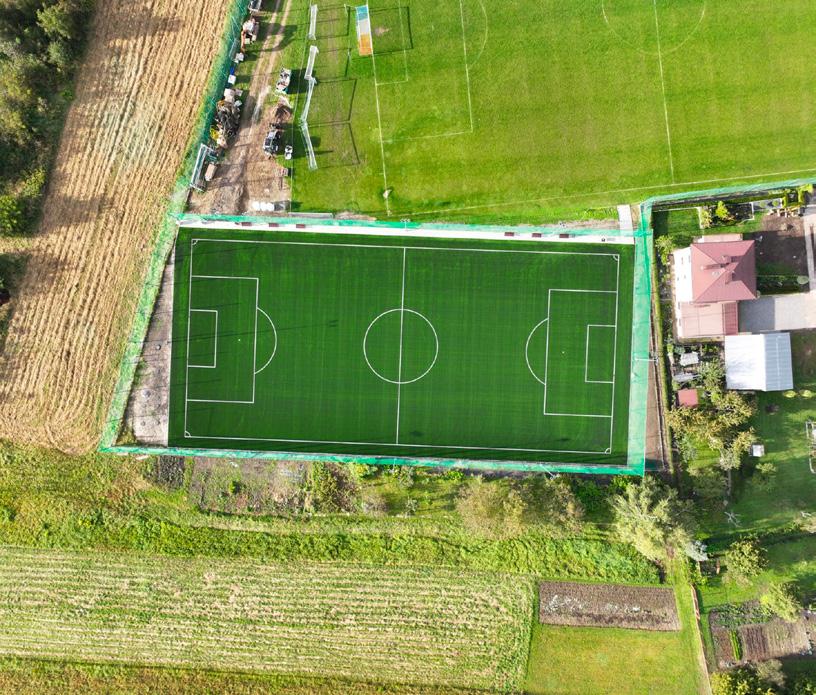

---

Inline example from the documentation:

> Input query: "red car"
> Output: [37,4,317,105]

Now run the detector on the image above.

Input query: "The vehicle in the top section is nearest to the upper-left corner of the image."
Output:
[242,18,258,56]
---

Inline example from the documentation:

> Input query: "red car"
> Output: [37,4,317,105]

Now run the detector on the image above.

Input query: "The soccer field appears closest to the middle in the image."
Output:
[168,229,635,465]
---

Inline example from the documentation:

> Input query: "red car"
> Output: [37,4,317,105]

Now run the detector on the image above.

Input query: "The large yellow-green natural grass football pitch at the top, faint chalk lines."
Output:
[288,0,816,224]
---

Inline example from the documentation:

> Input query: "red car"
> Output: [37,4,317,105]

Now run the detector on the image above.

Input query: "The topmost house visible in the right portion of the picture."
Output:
[673,234,758,337]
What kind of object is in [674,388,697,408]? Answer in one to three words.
shed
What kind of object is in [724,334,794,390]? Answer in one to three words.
shed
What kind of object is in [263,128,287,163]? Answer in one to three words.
work vehicle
